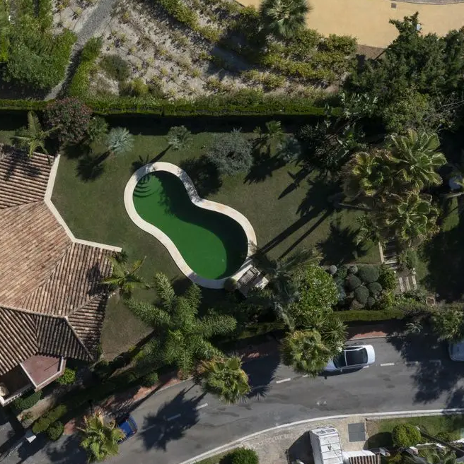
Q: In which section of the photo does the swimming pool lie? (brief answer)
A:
center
